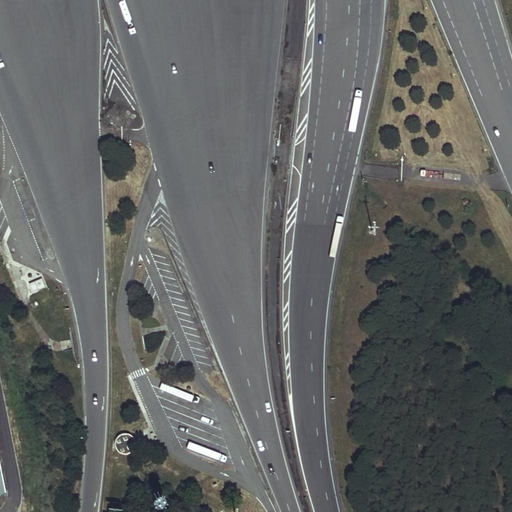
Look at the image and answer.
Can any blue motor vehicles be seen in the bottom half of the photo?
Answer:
No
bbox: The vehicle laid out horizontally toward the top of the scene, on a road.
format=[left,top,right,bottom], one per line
[420,168,462,182]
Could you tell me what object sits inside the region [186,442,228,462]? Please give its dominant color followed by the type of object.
white vehicle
